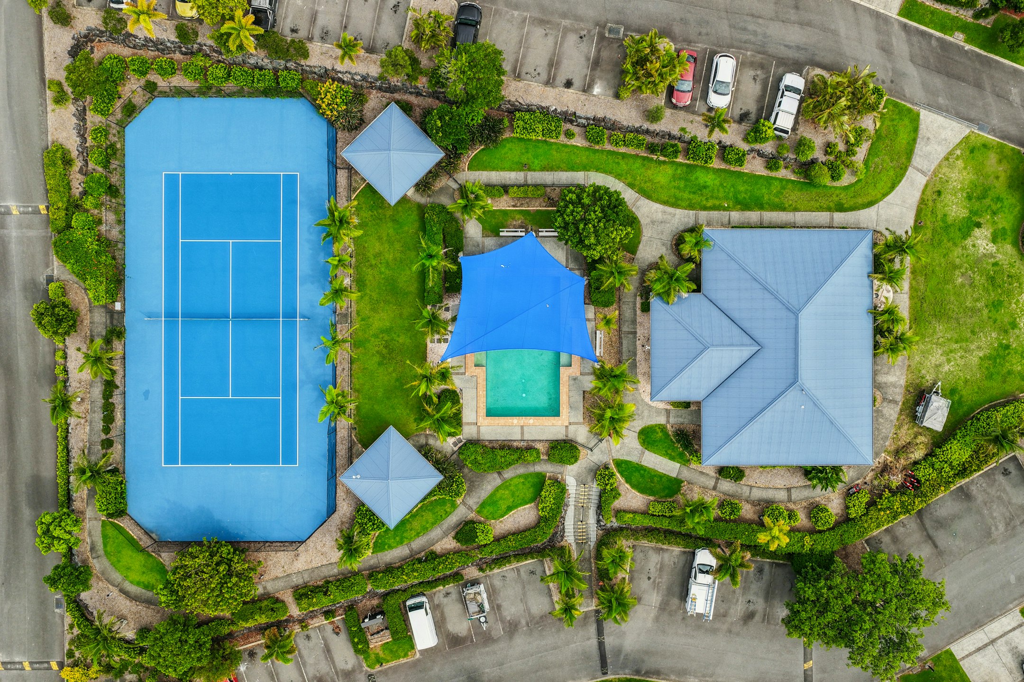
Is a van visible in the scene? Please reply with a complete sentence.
Yes, there is a van in the image.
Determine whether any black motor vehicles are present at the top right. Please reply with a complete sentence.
No, I can find no black motor vehicle at the top right.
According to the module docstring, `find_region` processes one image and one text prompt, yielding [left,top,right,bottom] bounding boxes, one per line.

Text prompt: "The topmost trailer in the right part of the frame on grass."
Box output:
[918,382,952,432]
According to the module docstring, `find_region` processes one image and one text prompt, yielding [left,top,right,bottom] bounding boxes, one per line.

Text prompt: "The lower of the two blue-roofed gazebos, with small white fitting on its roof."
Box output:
[339,424,445,530]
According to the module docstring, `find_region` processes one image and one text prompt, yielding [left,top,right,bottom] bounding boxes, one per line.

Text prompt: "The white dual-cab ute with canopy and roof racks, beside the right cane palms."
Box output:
[768,69,806,143]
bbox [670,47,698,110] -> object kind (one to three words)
car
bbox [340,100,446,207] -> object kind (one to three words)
gazebo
